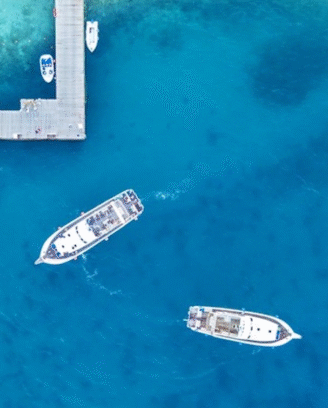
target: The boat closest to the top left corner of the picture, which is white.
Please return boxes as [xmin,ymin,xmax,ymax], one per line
[40,54,54,83]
